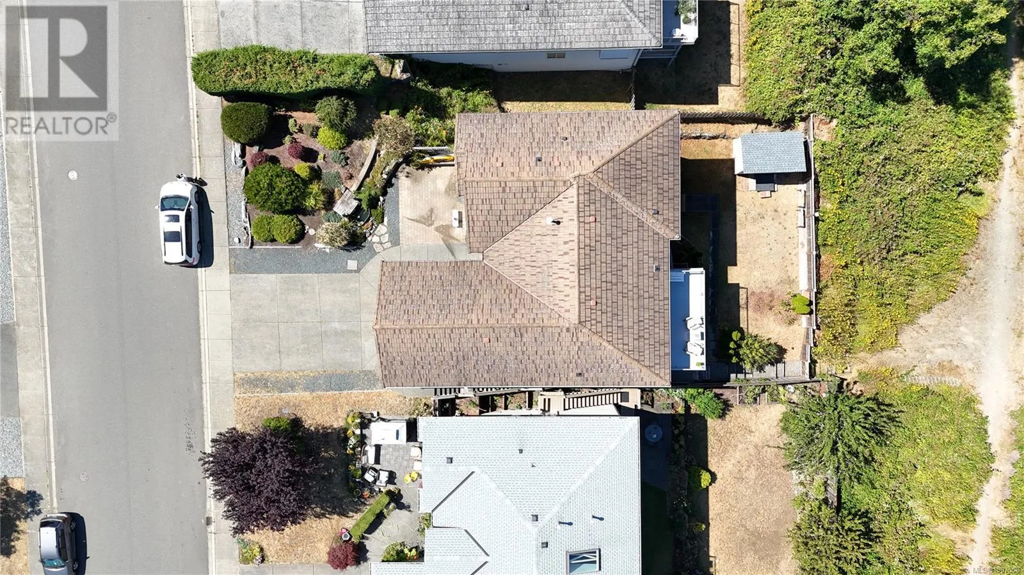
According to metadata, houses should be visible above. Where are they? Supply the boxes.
[362,0,700,75]
[371,109,708,389]
[370,409,644,575]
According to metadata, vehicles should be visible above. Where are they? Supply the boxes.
[38,511,81,575]
[158,184,202,267]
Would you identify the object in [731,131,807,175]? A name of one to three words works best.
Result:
shed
